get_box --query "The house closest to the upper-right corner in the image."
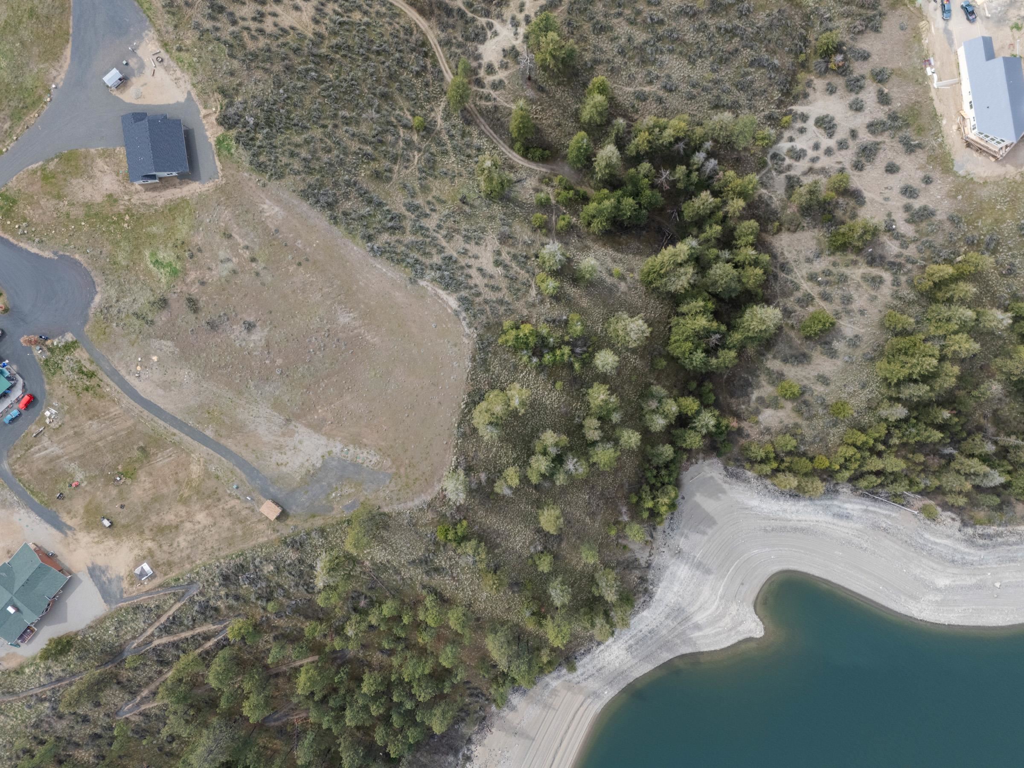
[956,36,1024,146]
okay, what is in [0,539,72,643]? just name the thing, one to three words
building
